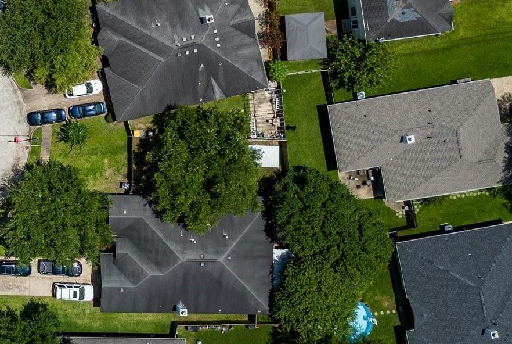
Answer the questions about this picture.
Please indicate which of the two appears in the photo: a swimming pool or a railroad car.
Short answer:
swimming pool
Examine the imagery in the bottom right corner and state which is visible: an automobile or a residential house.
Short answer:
residential house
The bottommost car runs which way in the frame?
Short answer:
from side to side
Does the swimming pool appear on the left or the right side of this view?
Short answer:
right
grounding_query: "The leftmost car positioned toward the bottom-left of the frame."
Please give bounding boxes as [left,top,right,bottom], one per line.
[0,258,33,278]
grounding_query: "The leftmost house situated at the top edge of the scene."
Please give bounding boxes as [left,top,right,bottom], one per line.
[95,0,269,122]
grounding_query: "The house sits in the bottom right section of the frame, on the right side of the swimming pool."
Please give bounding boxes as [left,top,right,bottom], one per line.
[389,222,512,344]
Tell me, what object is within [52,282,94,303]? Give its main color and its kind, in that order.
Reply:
white car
